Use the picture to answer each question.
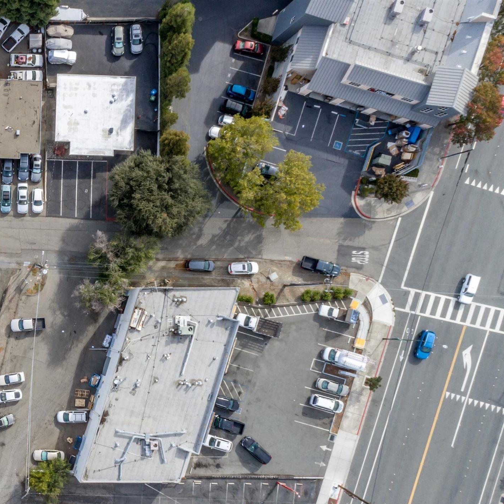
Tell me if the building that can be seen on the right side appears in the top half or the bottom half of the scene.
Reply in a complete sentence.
You can find the building that can be seen on the right side in the top half.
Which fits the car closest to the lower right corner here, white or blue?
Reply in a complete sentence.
The car closest to the lower right corner looks blue in the image.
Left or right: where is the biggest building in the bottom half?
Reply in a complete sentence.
The biggest building in the bottom half is on the left side of the image.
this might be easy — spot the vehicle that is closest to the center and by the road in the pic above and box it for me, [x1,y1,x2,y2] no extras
[227,260,259,274]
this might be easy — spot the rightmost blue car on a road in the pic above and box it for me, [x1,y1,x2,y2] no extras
[415,330,436,360]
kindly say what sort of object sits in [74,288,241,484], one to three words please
building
